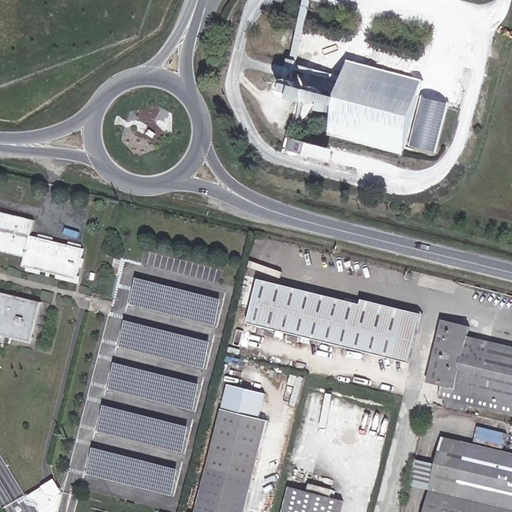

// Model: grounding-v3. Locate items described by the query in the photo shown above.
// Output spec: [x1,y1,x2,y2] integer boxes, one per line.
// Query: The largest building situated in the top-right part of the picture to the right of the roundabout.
[327,60,422,154]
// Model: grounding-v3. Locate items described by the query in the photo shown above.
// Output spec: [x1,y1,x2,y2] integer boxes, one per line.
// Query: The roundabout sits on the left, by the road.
[82,66,212,196]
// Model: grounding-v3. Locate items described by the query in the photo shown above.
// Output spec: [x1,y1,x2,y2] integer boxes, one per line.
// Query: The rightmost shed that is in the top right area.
[406,94,448,155]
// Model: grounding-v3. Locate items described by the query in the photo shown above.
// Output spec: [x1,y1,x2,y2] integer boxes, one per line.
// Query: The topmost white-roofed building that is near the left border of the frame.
[0,211,38,256]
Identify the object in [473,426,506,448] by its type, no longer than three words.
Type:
shed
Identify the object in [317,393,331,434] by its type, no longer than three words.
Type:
vehicle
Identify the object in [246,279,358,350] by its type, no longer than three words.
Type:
building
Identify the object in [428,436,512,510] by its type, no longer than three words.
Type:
building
